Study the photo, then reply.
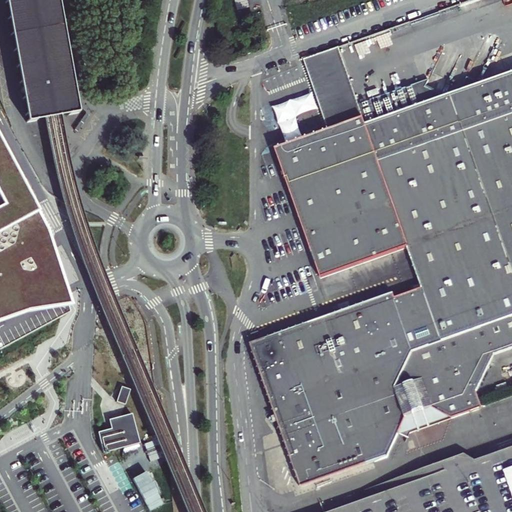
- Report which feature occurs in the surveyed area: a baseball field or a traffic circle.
traffic circle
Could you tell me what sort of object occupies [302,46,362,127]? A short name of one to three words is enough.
building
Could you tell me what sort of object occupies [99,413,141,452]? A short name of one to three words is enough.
house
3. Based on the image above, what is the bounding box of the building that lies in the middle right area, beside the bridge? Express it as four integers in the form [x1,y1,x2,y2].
[248,70,512,489]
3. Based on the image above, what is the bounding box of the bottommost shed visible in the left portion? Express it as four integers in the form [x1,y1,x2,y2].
[134,470,164,510]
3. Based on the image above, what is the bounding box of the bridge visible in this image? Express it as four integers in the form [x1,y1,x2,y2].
[49,114,204,512]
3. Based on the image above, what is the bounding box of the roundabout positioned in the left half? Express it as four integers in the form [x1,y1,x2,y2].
[134,207,200,274]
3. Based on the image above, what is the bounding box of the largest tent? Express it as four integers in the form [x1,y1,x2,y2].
[271,92,318,140]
